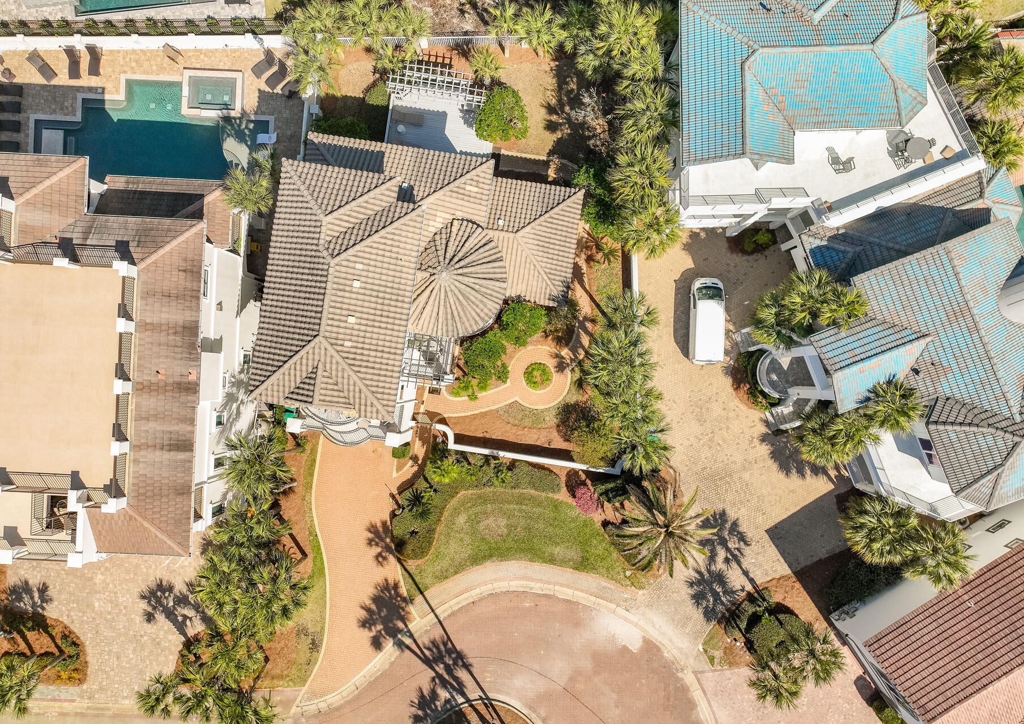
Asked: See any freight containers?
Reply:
No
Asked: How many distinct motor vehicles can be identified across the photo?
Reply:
one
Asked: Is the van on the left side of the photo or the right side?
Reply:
right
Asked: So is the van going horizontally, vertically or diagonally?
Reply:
vertically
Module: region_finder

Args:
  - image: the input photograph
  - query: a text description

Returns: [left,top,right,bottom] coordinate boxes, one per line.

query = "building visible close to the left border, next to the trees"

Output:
[0,151,262,566]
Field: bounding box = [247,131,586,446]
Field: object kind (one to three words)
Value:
house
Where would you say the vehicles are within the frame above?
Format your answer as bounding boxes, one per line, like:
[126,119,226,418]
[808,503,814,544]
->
[687,277,728,364]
